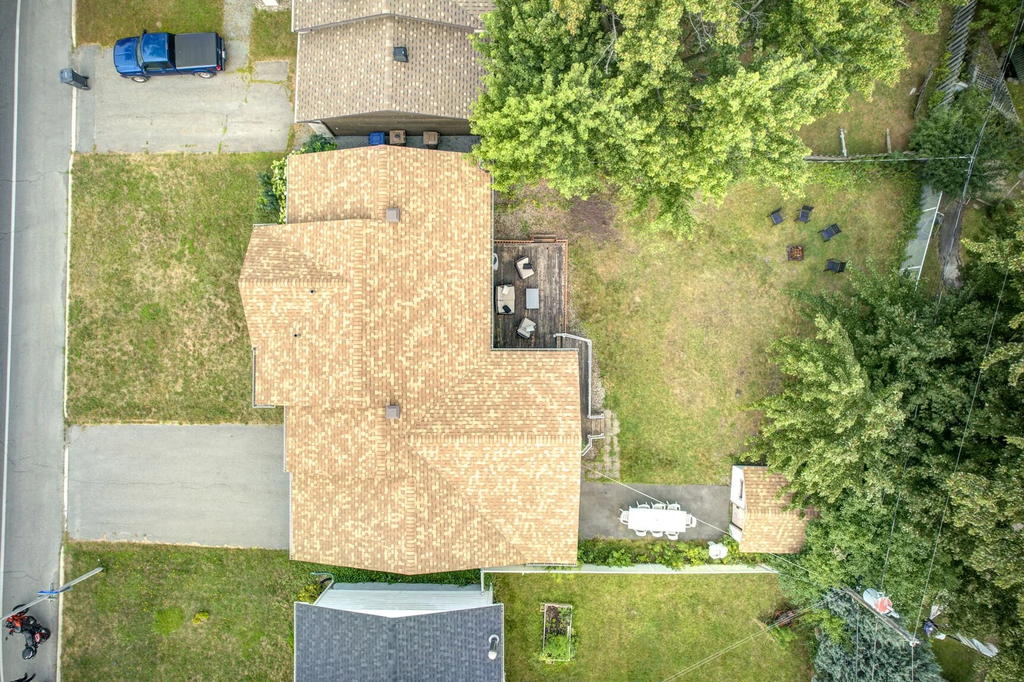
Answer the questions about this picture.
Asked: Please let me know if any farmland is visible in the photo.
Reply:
No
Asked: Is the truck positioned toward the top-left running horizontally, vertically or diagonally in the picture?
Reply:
horizontally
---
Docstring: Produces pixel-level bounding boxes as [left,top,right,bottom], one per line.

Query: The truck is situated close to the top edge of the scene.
[111,28,230,83]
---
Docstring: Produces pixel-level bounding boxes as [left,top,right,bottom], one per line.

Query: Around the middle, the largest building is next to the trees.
[239,144,581,574]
